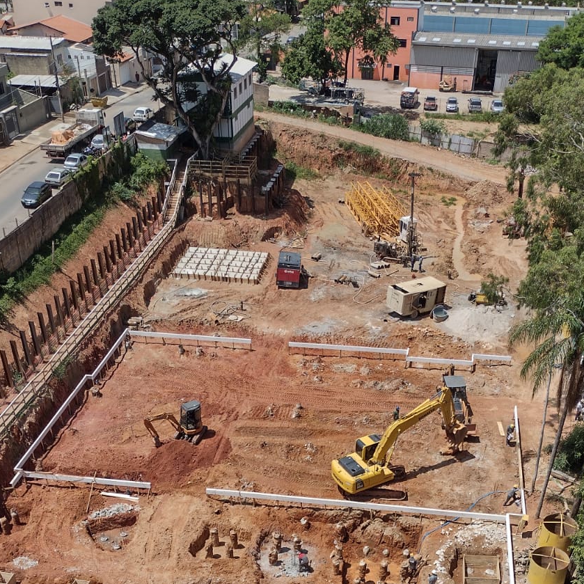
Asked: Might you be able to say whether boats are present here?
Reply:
No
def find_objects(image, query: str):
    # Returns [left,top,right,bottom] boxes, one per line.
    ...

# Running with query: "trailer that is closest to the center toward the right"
[390,263,449,313]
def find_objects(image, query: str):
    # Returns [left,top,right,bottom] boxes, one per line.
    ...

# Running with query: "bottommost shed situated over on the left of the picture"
[131,115,195,172]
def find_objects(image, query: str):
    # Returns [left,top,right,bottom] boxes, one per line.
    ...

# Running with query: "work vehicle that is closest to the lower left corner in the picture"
[135,390,213,443]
